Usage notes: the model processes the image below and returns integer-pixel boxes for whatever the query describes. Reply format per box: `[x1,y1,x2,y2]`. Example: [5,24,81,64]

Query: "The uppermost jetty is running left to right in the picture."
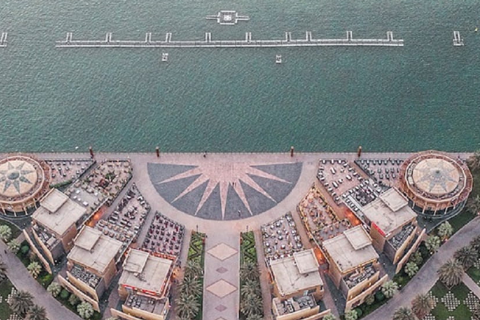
[205,8,251,27]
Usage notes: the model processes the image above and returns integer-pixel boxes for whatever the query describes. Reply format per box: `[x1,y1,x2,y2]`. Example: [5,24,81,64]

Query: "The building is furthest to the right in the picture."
[397,151,472,222]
